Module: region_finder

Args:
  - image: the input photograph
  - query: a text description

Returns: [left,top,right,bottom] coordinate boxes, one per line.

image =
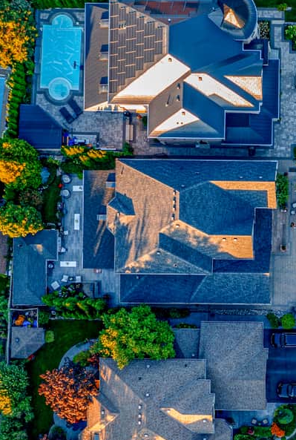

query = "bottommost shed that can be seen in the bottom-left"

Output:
[9,326,48,360]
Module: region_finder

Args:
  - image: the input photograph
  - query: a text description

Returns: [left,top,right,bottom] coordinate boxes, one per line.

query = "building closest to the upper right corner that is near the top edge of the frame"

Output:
[82,0,281,146]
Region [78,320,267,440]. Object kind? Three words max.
house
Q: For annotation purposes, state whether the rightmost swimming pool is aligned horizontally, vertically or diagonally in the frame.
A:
vertically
